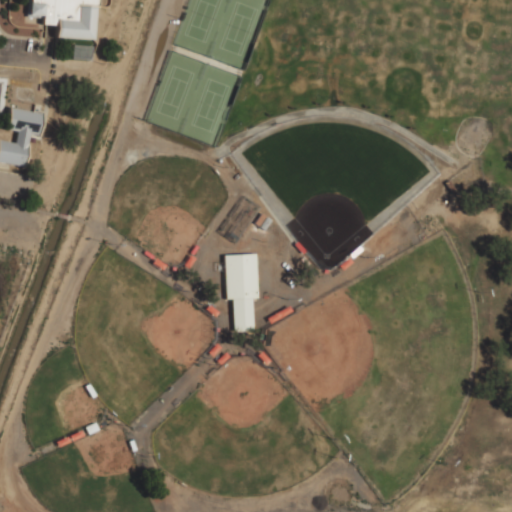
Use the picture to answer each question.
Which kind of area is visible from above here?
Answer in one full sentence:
The area seen from above is a sports ground.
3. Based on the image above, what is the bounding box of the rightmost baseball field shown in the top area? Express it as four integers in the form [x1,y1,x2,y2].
[226,114,441,269]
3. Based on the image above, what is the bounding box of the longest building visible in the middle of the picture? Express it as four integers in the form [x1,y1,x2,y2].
[223,254,259,331]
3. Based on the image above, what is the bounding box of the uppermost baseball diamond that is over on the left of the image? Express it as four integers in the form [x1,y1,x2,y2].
[107,156,228,271]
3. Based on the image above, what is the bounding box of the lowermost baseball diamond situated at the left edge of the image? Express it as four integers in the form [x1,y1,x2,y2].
[20,424,153,512]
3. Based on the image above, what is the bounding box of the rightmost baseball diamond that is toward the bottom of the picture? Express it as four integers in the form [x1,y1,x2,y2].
[264,231,474,502]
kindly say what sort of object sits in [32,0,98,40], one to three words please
building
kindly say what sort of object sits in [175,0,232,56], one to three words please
tennis court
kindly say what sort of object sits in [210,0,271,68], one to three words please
tennis court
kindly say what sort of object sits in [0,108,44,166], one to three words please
building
